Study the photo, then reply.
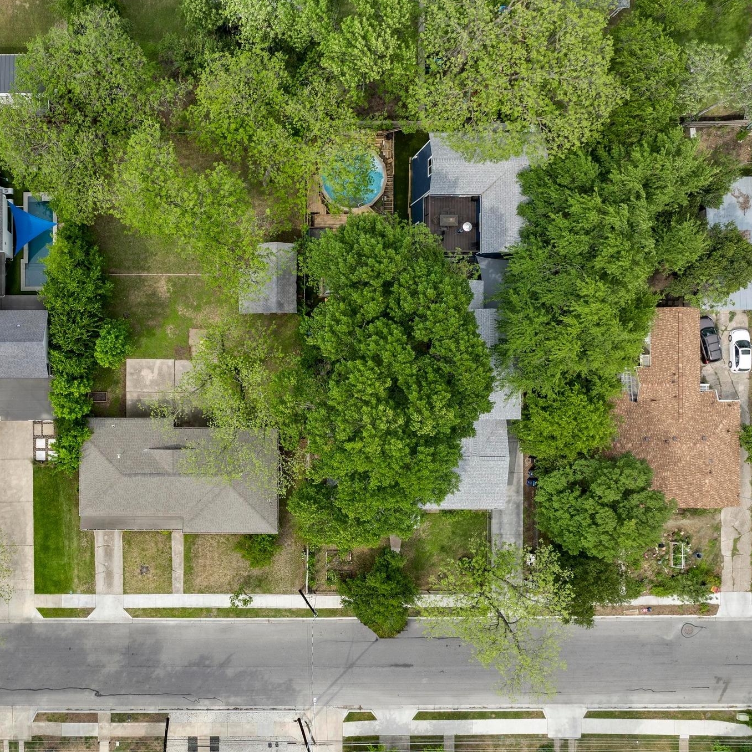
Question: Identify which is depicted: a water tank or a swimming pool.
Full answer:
This aerial view contains a swimming pool.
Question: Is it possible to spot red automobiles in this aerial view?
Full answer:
No, there isn't any red automobile down there.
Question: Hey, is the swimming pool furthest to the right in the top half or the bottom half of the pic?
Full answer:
You can find the swimming pool furthest to the right in the top half.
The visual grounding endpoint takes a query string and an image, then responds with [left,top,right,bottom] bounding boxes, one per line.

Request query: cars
[728,331,752,372]
[700,318,724,363]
